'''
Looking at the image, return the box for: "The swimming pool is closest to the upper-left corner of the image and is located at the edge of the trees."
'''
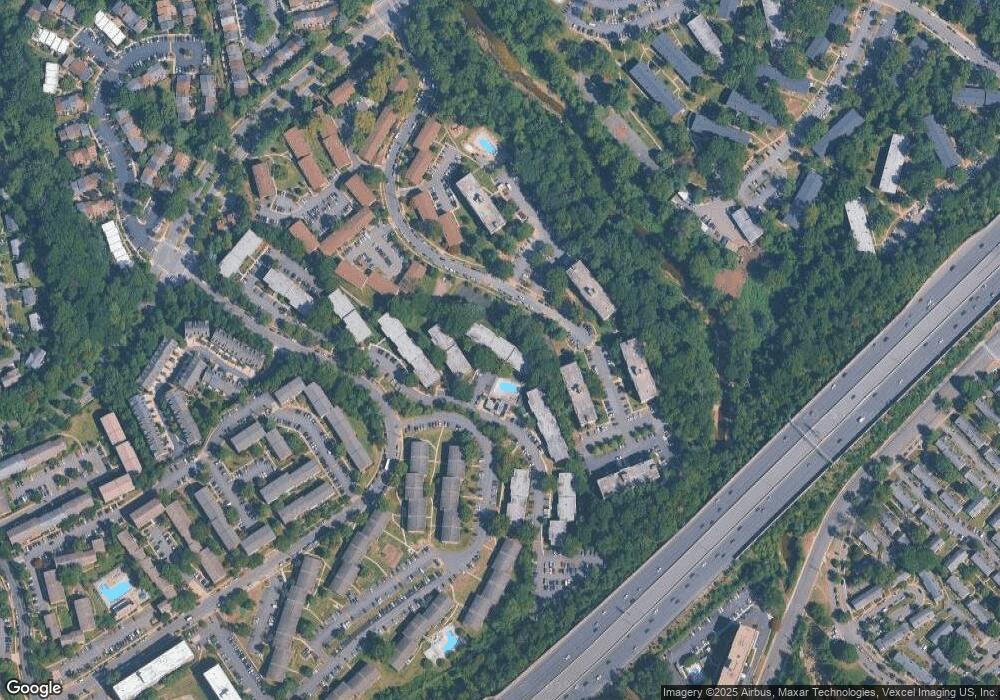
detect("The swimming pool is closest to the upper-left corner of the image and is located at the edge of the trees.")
[463,126,499,166]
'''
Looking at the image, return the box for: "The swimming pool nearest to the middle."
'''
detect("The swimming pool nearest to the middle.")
[489,377,523,403]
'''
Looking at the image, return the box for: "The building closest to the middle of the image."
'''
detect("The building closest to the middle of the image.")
[467,322,523,370]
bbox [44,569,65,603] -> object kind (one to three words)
building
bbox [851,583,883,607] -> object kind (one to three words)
house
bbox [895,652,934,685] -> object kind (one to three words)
house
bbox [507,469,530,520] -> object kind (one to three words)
building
